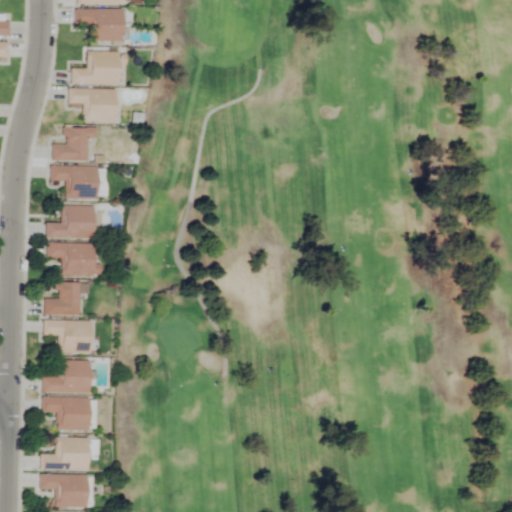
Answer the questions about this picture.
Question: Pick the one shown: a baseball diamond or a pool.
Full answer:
The image shows a pool.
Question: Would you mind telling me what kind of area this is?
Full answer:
This image shows a golf course.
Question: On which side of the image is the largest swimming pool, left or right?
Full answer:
You can find the largest swimming pool on the left side of the picture.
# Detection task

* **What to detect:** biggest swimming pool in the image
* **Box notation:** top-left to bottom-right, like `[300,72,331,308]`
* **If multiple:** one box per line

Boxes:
[124,28,157,47]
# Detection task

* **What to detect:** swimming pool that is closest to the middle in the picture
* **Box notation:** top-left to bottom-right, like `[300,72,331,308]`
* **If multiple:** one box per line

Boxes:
[108,209,122,226]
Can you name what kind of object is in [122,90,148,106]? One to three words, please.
swimming pool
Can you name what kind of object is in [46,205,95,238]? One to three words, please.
house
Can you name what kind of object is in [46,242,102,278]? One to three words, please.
house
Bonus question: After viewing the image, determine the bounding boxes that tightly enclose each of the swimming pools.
[108,209,122,226]
[122,90,148,106]
[96,362,108,386]
[124,28,157,47]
